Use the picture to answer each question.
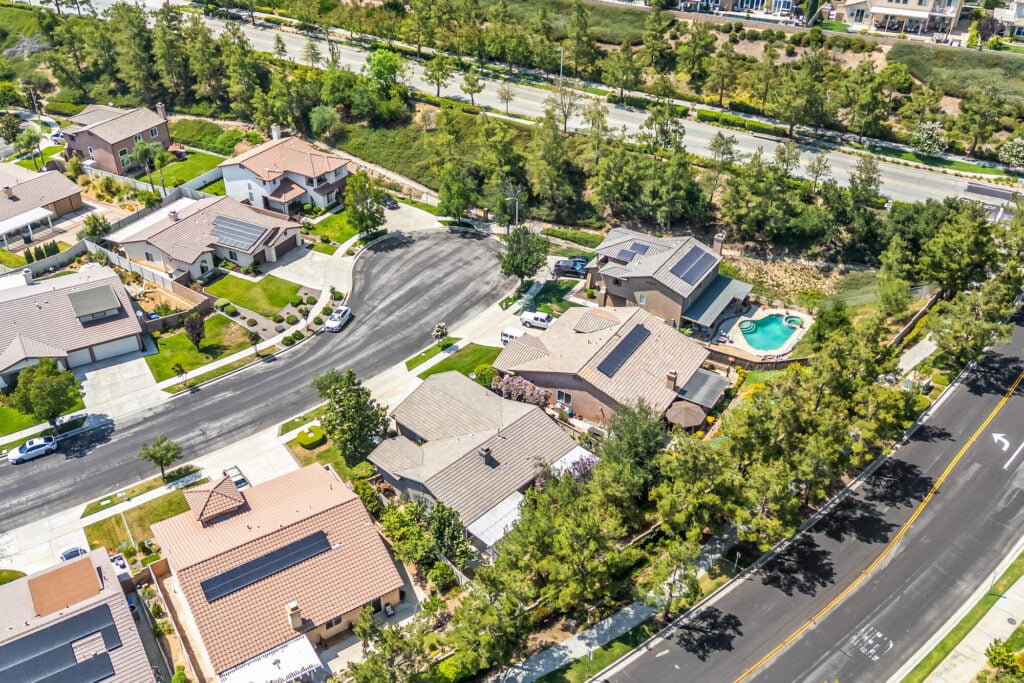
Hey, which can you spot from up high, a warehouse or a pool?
pool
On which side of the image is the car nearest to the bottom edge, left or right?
left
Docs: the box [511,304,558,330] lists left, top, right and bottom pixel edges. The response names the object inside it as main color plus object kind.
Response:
white truck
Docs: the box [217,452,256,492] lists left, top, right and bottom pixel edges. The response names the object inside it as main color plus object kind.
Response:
white truck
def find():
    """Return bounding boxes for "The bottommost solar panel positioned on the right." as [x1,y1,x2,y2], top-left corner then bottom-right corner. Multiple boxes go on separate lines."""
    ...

[598,321,653,373]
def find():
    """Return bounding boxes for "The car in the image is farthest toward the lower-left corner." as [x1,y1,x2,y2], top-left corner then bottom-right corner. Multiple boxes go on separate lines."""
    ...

[53,534,88,564]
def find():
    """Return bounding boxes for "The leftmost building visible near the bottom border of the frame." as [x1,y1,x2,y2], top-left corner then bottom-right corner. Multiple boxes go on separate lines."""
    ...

[0,546,179,683]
